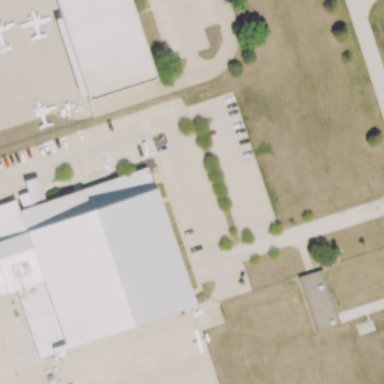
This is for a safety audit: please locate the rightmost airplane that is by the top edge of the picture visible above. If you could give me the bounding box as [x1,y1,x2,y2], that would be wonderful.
[20,10,51,38]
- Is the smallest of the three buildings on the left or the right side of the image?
right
